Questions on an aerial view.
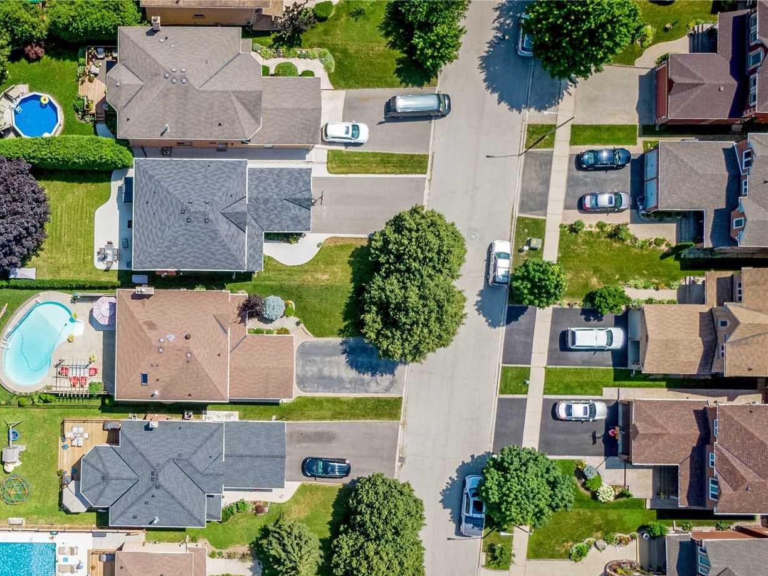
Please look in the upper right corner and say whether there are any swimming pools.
No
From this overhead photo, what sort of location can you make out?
residential area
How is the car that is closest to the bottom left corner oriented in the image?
from left to right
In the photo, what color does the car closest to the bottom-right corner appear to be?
white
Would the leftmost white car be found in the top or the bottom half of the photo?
top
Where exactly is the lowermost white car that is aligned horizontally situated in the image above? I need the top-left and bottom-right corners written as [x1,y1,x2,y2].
[553,399,605,424]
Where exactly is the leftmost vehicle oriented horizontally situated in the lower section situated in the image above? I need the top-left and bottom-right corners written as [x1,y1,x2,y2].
[300,456,350,481]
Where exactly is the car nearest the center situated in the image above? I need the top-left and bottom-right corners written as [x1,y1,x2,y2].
[485,240,513,289]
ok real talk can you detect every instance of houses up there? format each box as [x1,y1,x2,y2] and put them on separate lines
[106,15,323,148]
[610,521,768,576]
[631,268,768,377]
[646,133,768,248]
[655,0,768,122]
[133,158,327,272]
[80,413,287,528]
[115,543,207,576]
[620,399,768,515]
[115,286,296,401]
